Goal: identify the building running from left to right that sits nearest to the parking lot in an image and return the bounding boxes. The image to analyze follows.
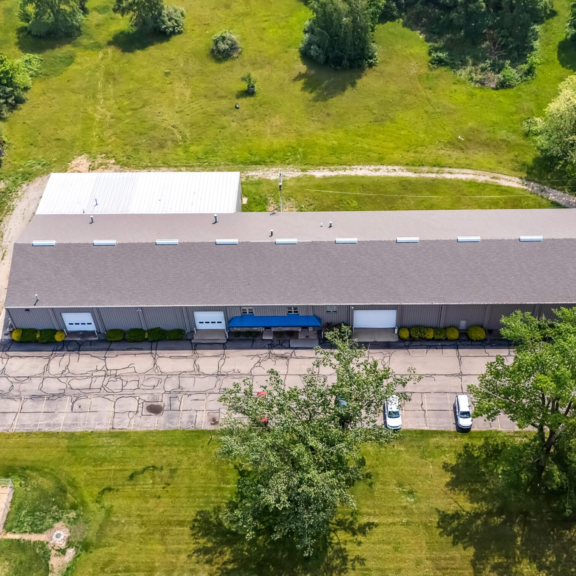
[4,209,576,331]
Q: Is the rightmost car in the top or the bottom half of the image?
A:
bottom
